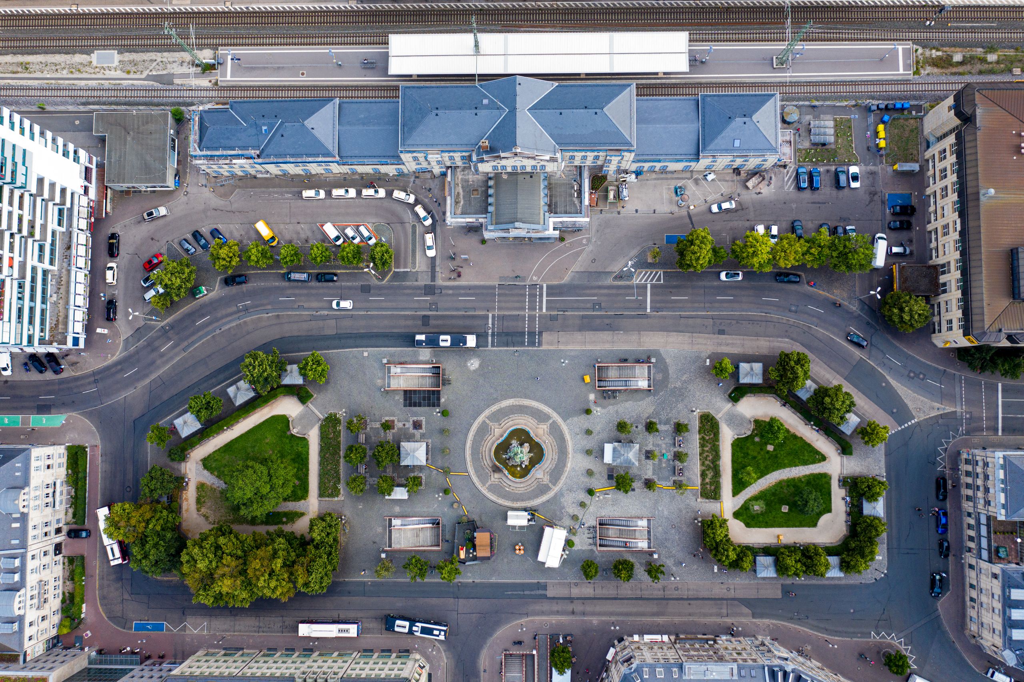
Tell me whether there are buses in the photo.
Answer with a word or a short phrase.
Yes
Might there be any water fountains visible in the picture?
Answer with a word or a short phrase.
Yes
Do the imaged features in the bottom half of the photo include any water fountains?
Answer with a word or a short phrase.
Yes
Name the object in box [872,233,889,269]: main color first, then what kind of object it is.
white vehicle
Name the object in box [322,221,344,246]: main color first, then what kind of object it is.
white vehicle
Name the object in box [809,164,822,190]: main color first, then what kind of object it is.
blue vehicle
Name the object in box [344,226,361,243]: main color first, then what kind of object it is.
white car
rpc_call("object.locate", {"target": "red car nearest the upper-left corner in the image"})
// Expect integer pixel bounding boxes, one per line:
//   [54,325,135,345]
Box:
[142,253,164,273]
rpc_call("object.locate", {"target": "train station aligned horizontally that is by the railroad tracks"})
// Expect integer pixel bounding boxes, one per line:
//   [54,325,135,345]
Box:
[199,75,792,229]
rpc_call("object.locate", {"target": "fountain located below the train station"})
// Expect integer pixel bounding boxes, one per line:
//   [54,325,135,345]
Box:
[464,398,573,509]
